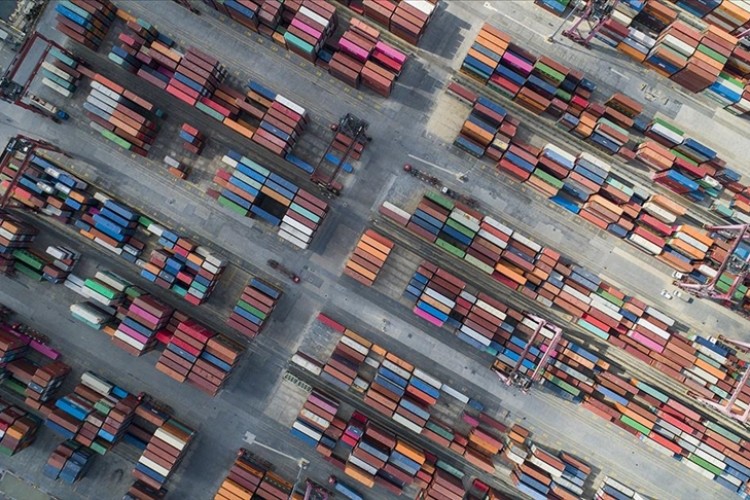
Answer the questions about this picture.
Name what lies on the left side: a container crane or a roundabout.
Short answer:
container crane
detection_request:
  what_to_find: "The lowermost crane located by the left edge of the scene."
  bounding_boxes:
[0,130,66,215]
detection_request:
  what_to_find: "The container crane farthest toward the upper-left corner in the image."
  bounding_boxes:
[0,23,85,119]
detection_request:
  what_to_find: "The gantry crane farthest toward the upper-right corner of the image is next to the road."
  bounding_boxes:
[560,0,620,48]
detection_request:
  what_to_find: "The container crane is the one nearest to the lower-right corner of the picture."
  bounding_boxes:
[687,335,750,425]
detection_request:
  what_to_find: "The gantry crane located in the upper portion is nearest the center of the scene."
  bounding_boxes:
[309,111,371,198]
